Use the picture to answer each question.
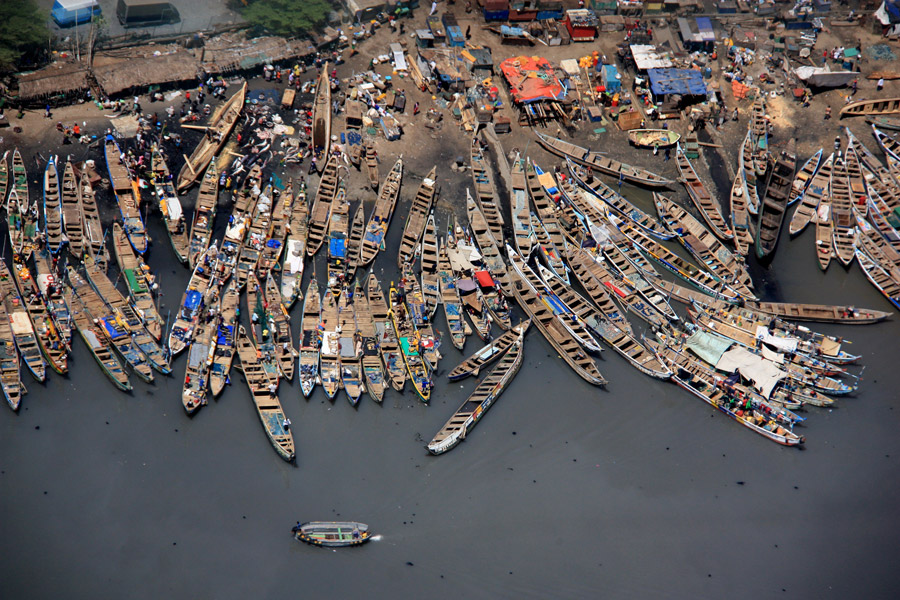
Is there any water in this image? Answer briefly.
Yes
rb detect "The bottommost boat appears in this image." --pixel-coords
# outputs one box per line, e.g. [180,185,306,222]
[292,524,374,546]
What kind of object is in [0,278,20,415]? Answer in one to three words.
boat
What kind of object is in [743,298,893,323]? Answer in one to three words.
boat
